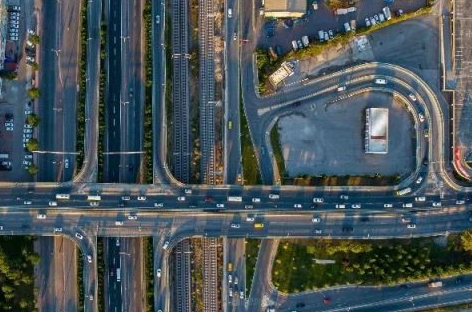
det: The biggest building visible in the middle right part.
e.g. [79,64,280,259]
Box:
[362,108,388,154]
